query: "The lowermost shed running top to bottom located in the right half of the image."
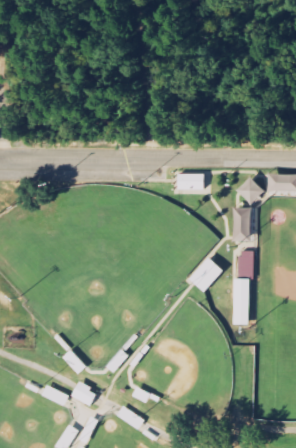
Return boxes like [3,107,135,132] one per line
[233,278,250,326]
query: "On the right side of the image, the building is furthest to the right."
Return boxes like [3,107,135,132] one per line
[268,174,296,193]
